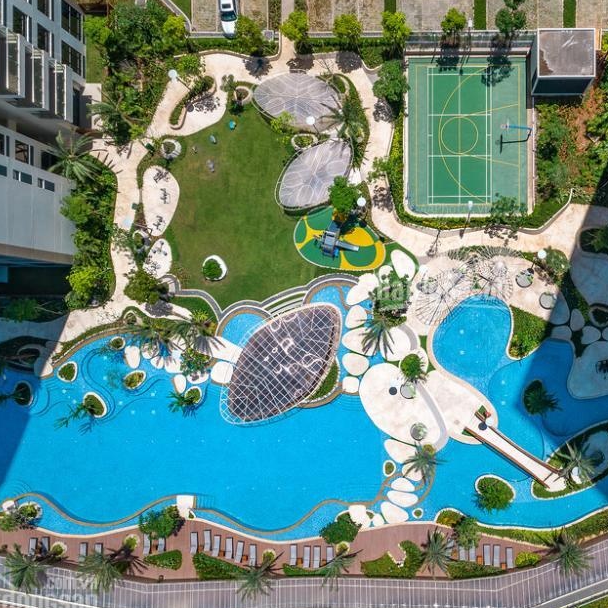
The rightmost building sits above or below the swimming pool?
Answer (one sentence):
In the image, the rightmost building sits above the swimming pool.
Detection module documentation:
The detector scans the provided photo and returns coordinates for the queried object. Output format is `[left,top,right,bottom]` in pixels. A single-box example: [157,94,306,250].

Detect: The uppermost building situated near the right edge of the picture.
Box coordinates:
[533,28,596,100]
